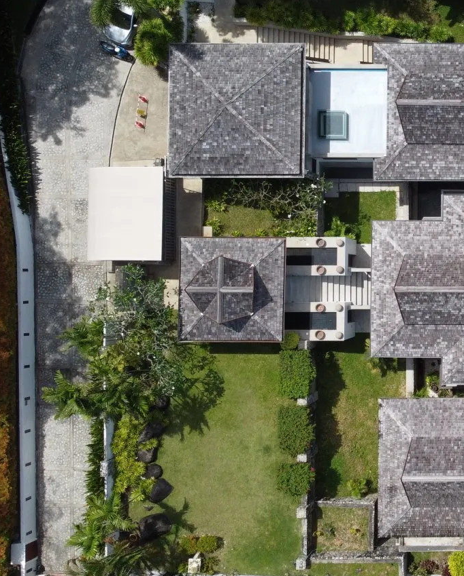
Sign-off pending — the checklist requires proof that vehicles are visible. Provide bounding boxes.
[98,41,130,59]
[107,0,156,44]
